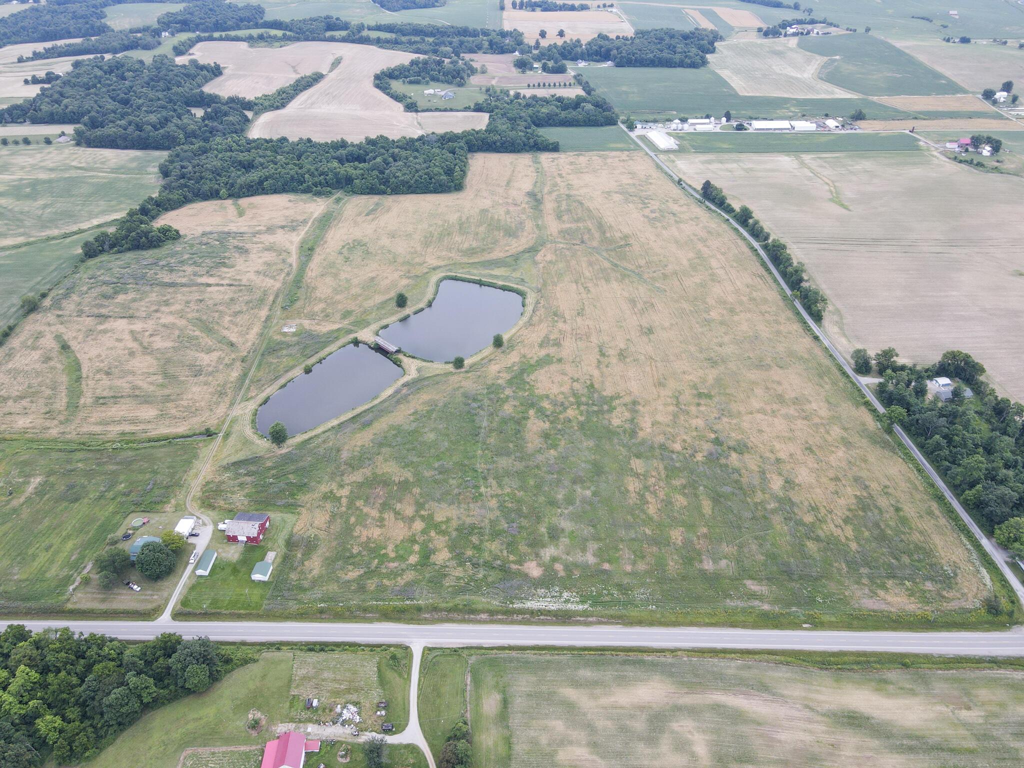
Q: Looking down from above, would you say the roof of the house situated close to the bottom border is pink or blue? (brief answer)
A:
pink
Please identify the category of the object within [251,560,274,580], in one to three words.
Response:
shed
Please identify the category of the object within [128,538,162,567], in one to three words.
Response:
house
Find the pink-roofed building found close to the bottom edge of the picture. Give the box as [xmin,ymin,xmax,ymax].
[262,730,323,768]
